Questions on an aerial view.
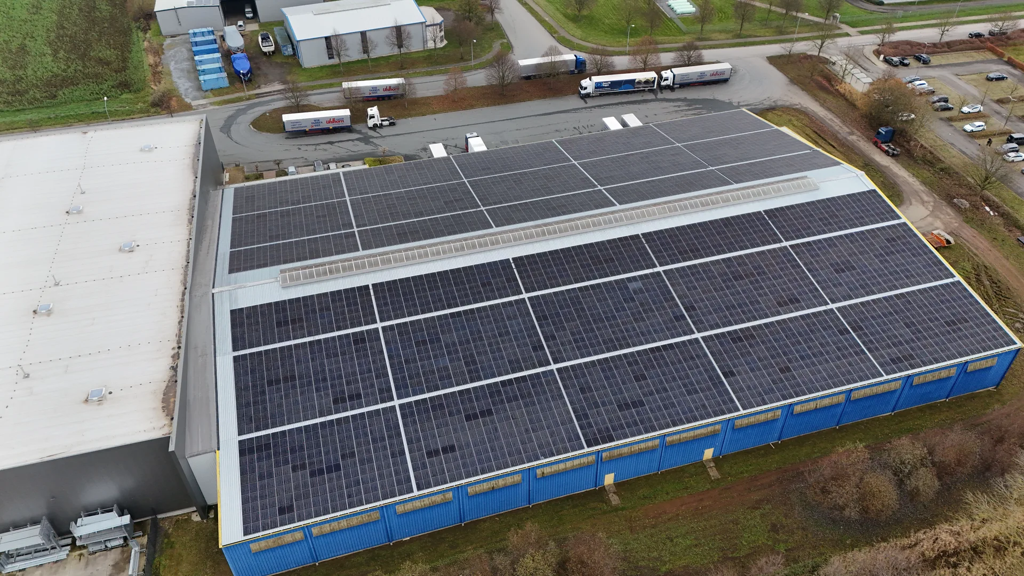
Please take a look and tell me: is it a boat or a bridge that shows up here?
boat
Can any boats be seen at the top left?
Yes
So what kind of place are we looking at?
industrial area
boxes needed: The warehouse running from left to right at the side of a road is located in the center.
[210,108,1024,576]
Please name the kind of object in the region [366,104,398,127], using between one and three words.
truck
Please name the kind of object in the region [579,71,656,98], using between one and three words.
truck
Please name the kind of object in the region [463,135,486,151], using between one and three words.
vehicle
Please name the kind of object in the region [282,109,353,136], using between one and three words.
trailer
